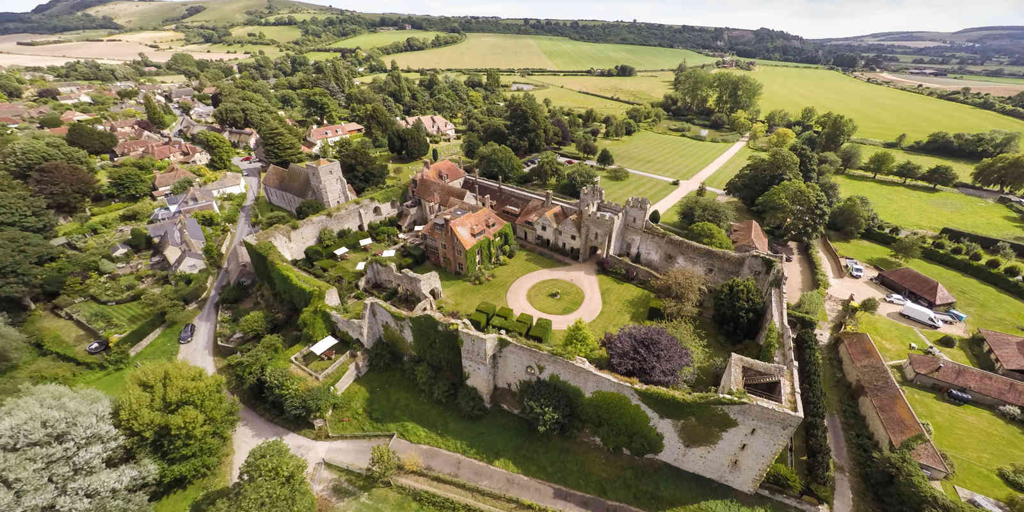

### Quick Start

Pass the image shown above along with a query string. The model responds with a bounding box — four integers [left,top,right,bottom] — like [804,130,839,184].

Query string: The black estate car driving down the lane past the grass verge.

[175,320,196,341]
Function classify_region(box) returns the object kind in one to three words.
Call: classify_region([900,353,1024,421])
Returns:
barn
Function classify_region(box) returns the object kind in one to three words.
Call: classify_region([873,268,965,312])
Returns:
shed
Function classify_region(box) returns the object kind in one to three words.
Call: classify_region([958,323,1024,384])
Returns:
barn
